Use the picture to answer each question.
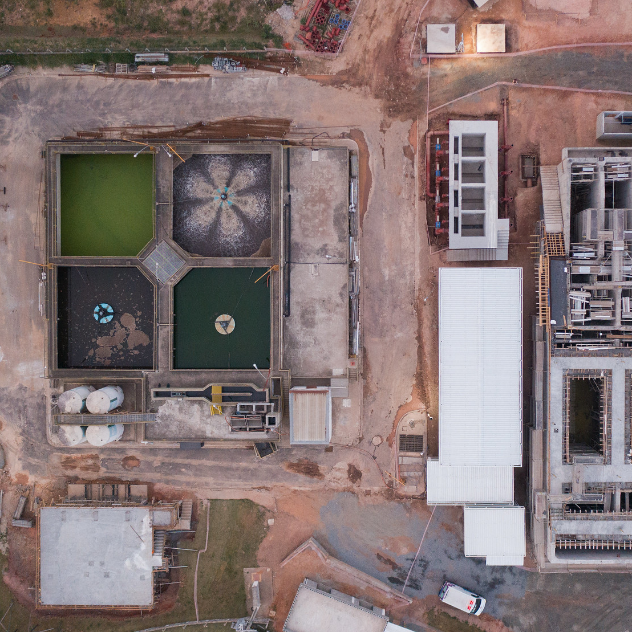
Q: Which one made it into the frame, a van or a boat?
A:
van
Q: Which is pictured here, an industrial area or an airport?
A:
industrial area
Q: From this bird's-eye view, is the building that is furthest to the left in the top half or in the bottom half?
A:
bottom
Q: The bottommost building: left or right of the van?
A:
on its left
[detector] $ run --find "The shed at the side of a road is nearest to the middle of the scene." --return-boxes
[290,386,346,445]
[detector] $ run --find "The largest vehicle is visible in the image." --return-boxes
[439,580,486,614]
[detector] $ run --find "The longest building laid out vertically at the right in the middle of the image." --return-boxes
[438,268,522,467]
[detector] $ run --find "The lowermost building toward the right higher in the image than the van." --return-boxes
[462,500,526,557]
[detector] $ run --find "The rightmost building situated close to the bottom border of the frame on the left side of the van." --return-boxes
[282,570,390,632]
